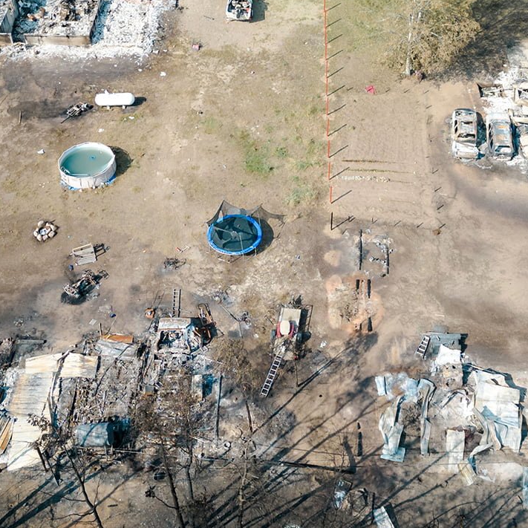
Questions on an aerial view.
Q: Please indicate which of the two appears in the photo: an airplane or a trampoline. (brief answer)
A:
trampoline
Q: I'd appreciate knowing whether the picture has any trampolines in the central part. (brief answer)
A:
Yes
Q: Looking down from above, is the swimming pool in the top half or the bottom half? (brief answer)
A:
top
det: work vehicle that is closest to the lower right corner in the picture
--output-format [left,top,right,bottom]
[267,298,309,354]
